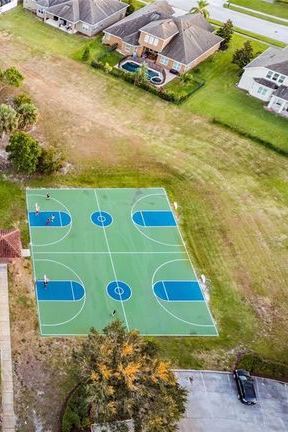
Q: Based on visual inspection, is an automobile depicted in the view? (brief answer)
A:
Yes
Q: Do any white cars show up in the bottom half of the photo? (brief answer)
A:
No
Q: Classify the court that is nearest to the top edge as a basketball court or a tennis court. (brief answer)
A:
basketball court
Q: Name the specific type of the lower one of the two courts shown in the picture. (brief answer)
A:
basketball court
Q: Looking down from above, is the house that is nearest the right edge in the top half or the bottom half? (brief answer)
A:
top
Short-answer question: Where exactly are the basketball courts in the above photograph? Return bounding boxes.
[26,188,187,253]
[32,252,219,336]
